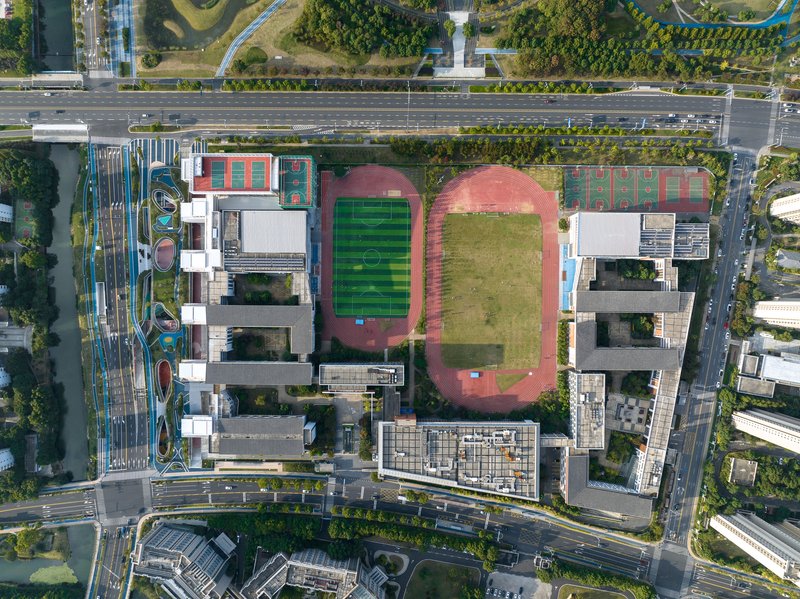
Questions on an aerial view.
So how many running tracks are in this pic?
2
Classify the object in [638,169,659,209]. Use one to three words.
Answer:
basketball court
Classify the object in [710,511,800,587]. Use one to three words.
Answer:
building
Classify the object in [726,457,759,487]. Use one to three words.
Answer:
building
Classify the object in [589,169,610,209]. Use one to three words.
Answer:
basketball court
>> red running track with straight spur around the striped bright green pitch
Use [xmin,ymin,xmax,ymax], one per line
[321,166,423,350]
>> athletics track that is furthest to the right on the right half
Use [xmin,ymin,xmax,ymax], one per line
[426,165,558,413]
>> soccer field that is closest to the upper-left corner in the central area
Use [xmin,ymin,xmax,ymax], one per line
[334,197,411,317]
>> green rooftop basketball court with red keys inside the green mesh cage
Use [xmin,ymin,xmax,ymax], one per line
[284,159,306,204]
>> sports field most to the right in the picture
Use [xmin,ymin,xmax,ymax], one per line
[441,213,542,369]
